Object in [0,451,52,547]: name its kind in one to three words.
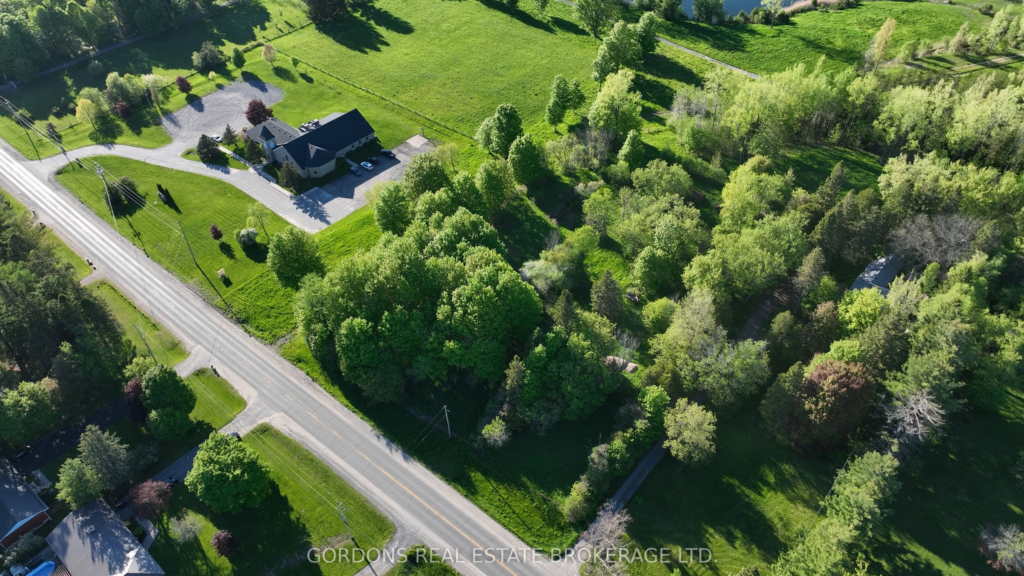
house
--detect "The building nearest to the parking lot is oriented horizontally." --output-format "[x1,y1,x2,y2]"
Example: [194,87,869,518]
[244,108,375,178]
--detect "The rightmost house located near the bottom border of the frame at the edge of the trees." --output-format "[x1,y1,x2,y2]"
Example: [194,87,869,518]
[44,498,172,576]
